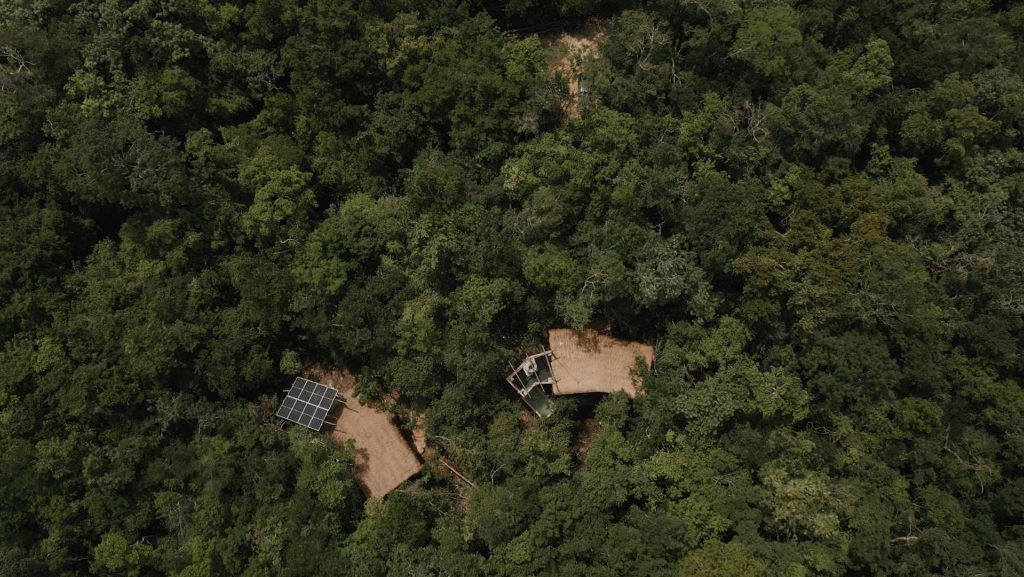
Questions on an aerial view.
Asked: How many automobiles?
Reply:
zero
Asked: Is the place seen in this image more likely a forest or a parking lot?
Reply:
forest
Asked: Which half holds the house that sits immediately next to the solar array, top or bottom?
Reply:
bottom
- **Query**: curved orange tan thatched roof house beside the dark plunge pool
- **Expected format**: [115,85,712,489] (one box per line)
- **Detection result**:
[549,327,654,403]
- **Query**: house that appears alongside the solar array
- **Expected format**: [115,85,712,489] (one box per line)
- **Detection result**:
[320,393,426,499]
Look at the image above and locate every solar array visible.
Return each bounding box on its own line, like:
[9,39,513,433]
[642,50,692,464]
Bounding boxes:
[276,377,346,435]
